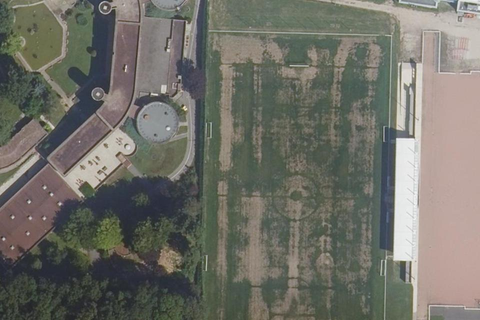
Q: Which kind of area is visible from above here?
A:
sports ground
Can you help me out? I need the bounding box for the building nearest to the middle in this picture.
[136,100,179,144]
